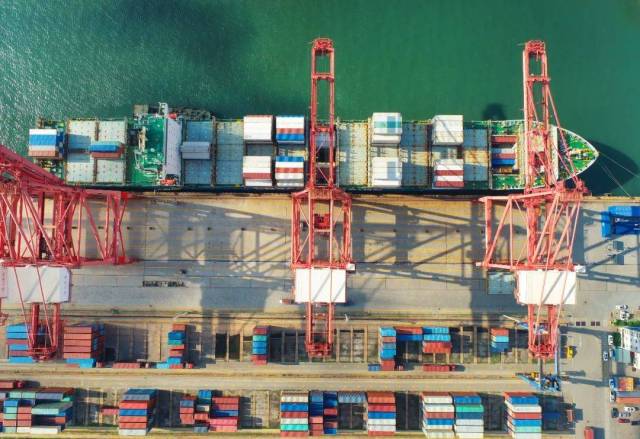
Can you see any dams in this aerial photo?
No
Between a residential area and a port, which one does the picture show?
port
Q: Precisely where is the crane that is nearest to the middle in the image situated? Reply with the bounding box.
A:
[282,36,359,361]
